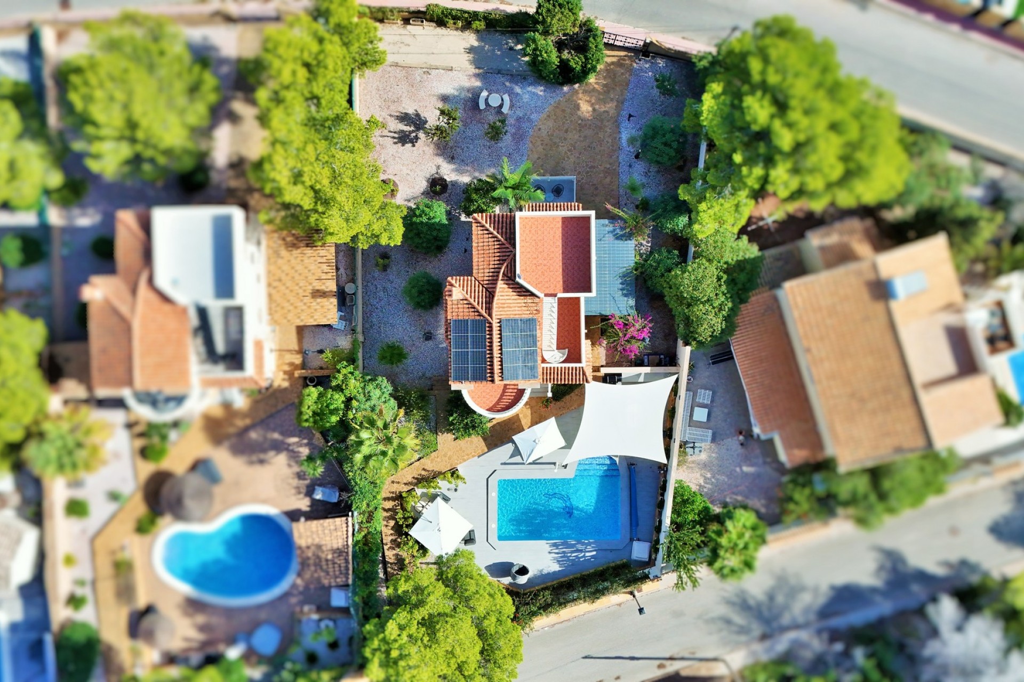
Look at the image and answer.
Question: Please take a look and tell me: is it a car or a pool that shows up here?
pool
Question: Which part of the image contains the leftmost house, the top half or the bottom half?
bottom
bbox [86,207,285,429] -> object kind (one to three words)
house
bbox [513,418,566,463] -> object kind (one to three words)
umbrella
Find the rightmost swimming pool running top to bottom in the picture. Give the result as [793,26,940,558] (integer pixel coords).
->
[996,343,1024,402]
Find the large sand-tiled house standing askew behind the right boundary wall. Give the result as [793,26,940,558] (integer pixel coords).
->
[731,215,1005,471]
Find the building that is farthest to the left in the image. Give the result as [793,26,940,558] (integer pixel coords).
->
[0,465,72,622]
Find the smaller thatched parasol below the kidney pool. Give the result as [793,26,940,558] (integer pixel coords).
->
[134,602,181,650]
